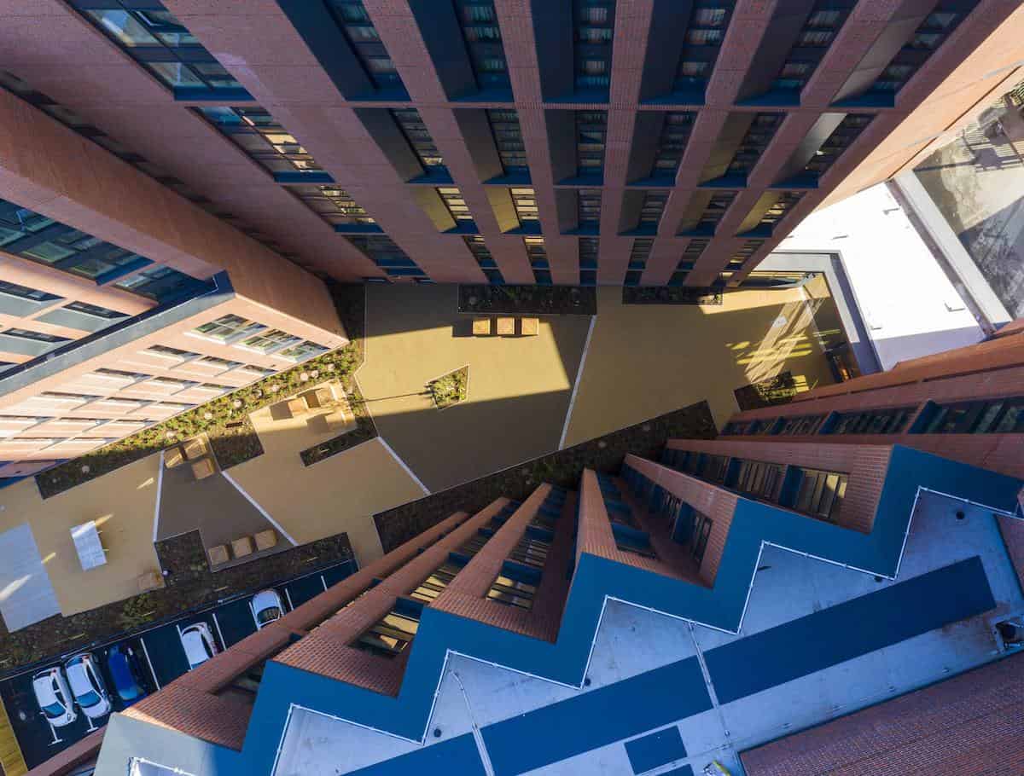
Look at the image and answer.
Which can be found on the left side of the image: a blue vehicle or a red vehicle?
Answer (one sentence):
You can see a blue vehicle on the left side of the image.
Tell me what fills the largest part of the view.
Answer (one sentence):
What you mostly see from above here is buildings.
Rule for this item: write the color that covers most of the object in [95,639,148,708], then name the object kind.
blue car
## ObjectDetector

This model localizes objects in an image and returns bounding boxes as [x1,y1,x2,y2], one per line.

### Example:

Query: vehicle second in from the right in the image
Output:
[172,617,214,670]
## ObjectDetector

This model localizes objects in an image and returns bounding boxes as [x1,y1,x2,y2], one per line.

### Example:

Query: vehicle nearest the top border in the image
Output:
[250,588,284,628]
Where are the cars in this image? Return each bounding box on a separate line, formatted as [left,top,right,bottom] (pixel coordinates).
[24,667,75,730]
[58,652,111,722]
[95,639,148,708]
[172,617,214,670]
[250,588,284,628]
